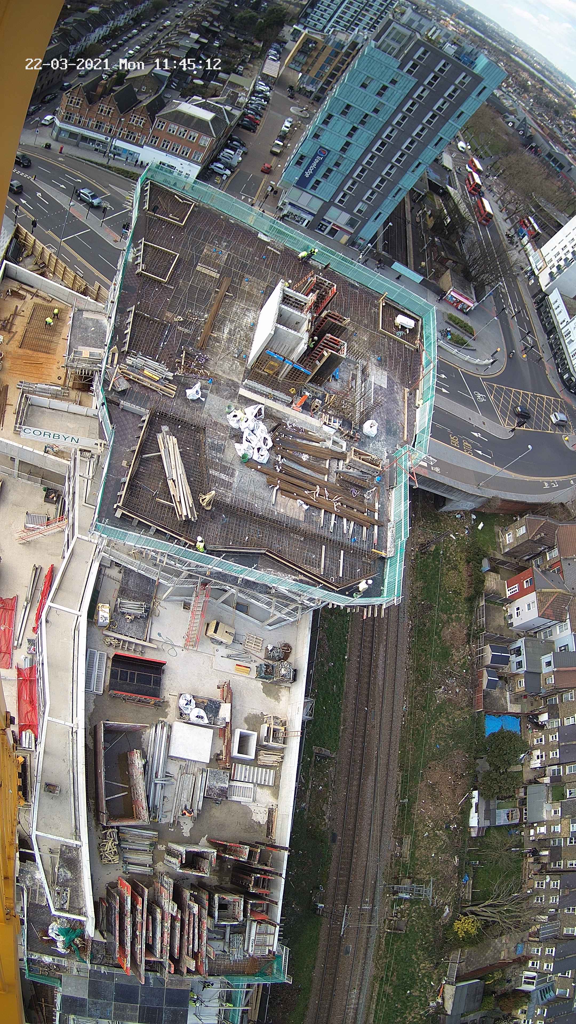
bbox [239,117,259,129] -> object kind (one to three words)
vehicle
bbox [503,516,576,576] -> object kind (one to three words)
house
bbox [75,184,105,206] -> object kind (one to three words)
car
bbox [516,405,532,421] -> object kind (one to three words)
car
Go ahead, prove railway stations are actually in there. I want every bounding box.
[370,166,461,288]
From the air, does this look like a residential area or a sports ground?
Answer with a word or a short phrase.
residential area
